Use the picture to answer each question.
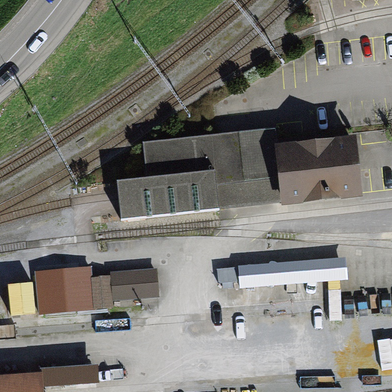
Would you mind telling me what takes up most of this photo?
paved ground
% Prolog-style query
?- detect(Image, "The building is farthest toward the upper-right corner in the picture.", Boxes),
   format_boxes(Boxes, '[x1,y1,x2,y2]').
[276,134,362,205]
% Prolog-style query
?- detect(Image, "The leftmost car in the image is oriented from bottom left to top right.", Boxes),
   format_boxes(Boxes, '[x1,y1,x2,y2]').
[0,66,20,87]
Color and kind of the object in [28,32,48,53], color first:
white car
